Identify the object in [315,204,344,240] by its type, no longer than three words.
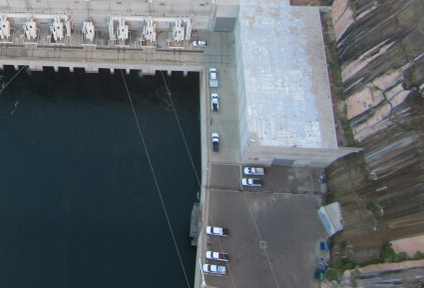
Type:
shed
